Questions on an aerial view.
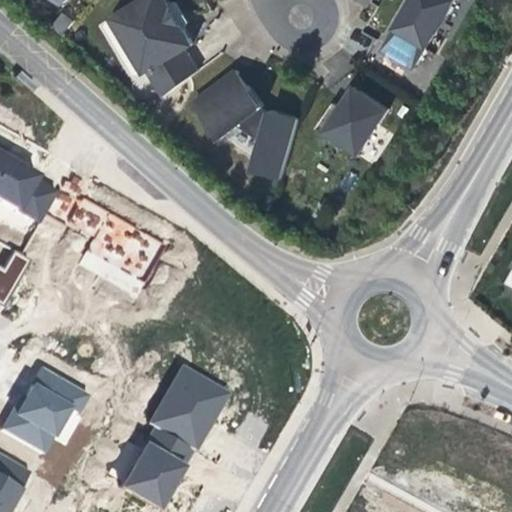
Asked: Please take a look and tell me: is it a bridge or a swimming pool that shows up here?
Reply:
swimming pool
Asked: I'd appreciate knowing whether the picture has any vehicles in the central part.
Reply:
No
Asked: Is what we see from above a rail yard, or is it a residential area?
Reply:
residential area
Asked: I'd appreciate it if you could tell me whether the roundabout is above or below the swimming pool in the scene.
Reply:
below it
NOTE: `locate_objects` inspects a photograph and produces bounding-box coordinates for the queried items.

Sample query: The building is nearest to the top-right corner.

[388,0,451,62]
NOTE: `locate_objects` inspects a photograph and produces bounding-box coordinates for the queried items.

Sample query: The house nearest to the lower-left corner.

[0,452,31,508]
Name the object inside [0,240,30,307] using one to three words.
house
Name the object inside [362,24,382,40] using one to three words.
car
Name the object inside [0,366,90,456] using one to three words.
house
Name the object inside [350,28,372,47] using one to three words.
car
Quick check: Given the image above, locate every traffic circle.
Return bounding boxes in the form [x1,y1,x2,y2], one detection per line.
[320,254,450,384]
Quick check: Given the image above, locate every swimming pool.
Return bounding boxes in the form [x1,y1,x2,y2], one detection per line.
[380,35,418,76]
